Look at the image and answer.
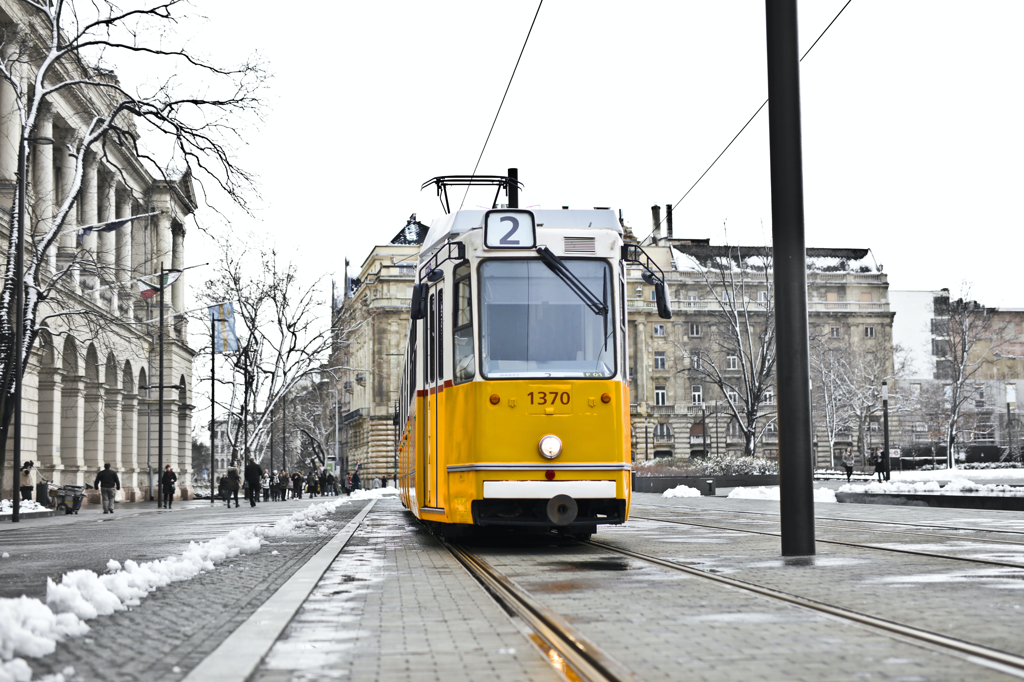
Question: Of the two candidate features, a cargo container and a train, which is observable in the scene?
train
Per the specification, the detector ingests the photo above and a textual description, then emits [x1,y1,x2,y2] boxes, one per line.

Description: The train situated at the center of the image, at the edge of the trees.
[401,173,674,546]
